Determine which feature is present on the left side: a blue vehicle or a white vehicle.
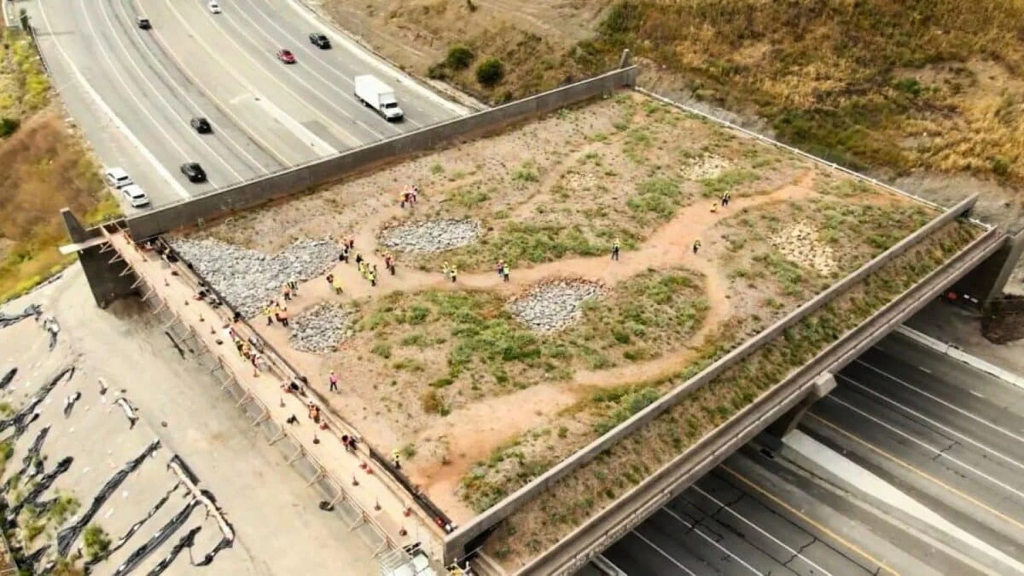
white vehicle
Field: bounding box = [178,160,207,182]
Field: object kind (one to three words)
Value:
car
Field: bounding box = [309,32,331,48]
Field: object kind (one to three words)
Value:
vehicle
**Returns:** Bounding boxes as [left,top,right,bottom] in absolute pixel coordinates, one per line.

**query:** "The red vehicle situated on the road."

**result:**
[276,48,296,62]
